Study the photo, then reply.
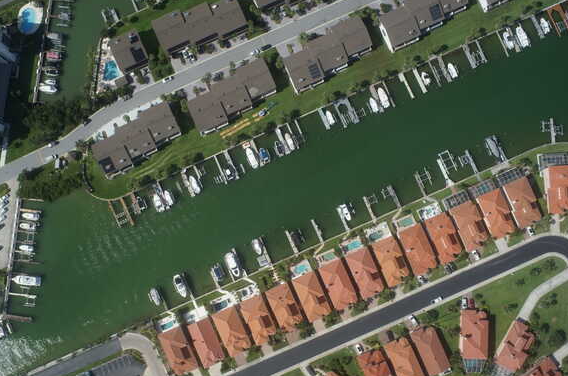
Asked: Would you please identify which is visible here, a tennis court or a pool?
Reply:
pool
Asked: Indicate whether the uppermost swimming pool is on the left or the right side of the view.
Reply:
left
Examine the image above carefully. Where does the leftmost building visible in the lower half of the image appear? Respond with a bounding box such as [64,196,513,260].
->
[159,326,196,375]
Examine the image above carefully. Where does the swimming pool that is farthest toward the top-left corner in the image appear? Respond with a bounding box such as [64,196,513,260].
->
[18,2,43,35]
